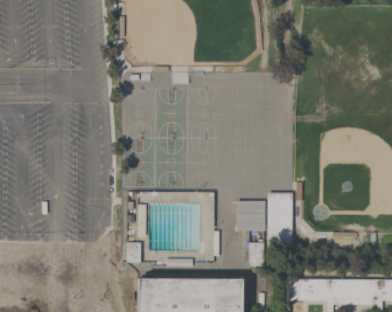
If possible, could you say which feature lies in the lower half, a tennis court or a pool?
pool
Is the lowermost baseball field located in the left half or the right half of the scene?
right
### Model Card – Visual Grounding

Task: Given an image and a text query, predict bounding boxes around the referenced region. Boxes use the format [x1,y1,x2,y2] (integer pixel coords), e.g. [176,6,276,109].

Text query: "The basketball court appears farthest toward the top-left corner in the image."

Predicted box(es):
[124,90,155,138]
